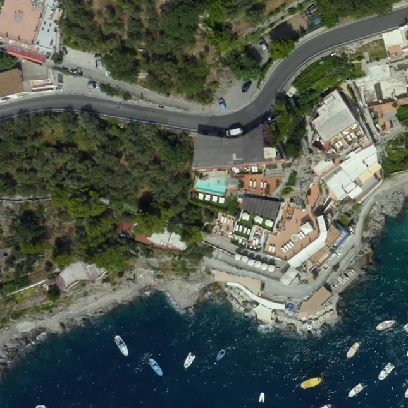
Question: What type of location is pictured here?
residential area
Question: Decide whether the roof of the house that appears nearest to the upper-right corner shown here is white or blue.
white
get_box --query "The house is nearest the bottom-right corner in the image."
[299,286,333,318]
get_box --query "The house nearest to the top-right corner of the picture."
[383,26,408,57]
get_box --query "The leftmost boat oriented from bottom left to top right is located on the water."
[184,352,197,369]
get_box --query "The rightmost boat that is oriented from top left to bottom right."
[148,357,161,376]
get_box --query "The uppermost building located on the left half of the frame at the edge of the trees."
[0,0,71,52]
